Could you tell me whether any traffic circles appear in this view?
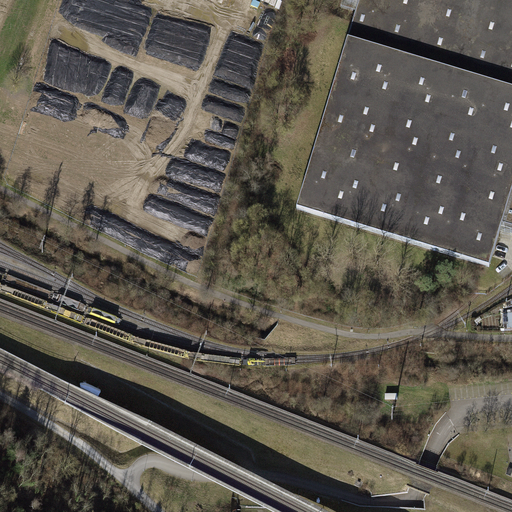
No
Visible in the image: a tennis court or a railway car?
railway car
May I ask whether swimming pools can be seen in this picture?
No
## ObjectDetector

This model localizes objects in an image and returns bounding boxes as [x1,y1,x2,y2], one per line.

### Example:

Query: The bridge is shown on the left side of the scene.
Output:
[0,348,329,512]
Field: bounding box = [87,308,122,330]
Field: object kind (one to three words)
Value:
rail car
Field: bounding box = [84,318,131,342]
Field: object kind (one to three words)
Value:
rail car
